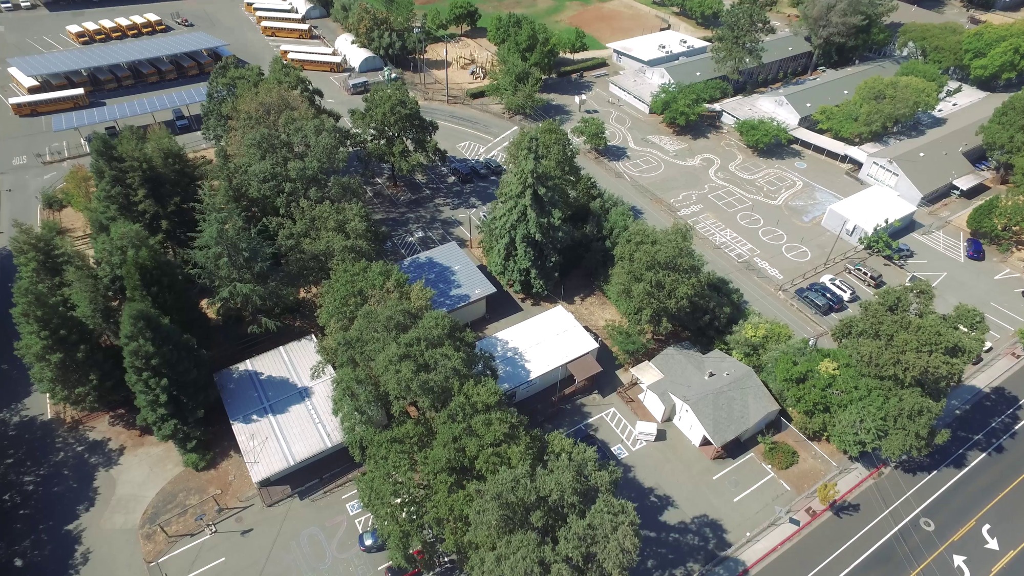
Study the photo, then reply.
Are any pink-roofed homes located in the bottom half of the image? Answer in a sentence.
No, I can find no pink-roofed home in the bottom half of the image.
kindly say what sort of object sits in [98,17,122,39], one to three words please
bus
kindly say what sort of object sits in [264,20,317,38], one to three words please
vehicle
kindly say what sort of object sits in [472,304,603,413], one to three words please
building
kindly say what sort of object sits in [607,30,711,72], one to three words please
building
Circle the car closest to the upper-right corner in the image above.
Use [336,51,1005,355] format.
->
[962,239,984,261]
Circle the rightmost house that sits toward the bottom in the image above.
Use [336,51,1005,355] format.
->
[615,342,781,460]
